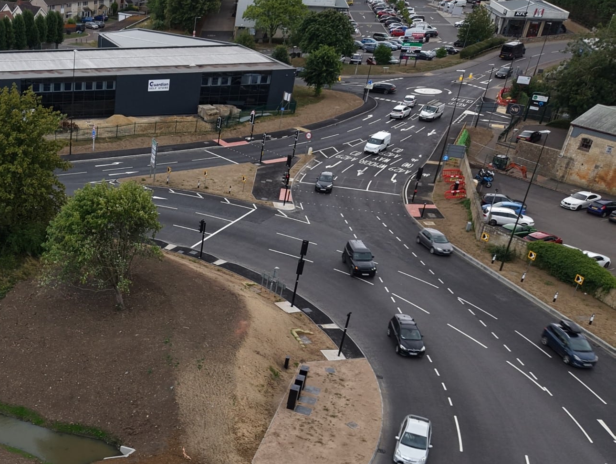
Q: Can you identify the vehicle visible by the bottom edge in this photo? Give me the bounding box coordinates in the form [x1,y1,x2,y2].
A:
[392,417,433,464]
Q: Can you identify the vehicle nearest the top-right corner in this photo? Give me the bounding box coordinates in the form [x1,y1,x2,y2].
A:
[504,42,520,56]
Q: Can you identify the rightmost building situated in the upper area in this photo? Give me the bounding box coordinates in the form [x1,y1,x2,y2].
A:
[556,99,616,195]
